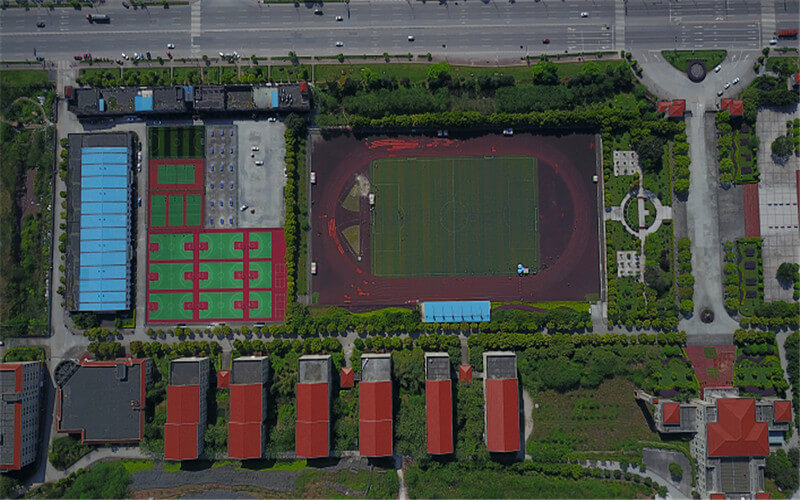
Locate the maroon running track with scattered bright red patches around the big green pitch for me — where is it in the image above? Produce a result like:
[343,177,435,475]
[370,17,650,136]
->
[312,130,601,306]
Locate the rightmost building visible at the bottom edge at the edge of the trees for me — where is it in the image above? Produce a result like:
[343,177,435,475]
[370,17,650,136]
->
[651,381,791,500]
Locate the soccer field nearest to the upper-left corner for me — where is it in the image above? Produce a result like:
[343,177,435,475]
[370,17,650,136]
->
[148,126,204,158]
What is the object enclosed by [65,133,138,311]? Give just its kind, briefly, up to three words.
building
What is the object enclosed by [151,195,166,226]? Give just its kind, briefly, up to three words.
tennis court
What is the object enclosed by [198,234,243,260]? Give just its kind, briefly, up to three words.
basketball court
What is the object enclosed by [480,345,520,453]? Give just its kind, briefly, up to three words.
building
